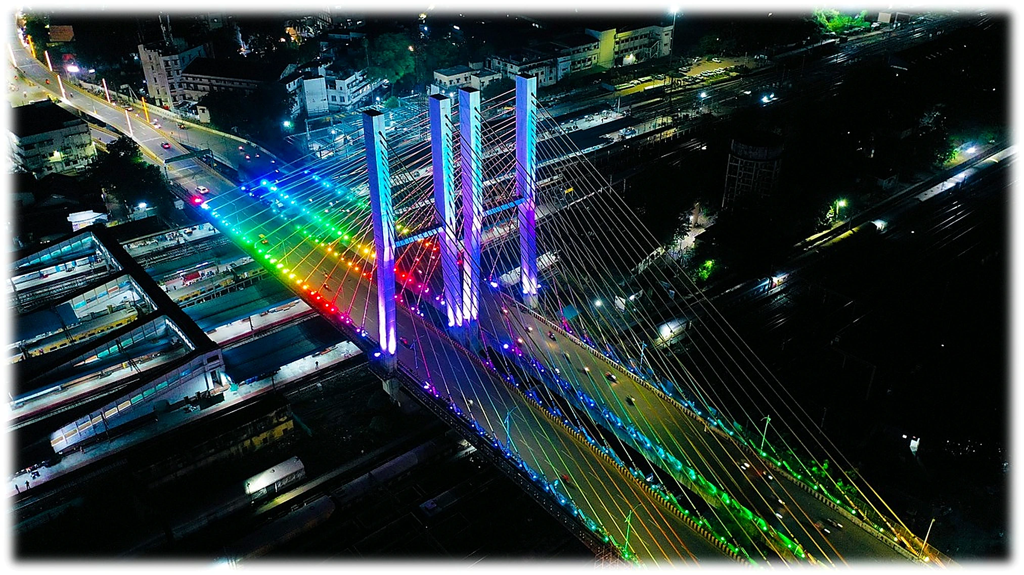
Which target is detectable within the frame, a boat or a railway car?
railway car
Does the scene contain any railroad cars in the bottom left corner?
Yes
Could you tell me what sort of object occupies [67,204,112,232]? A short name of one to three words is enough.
building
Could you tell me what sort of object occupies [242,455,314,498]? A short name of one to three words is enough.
rail car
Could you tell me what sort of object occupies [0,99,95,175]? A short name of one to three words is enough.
building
